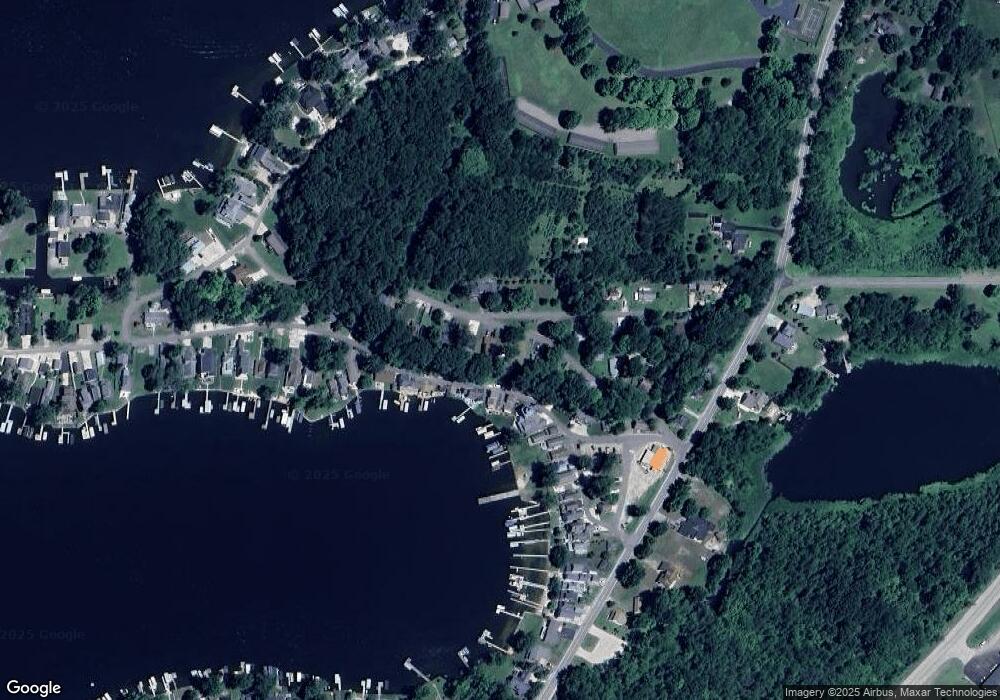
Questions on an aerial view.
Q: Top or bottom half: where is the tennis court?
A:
top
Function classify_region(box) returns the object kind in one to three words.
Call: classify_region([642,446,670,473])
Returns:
building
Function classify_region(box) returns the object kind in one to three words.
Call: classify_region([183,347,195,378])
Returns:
house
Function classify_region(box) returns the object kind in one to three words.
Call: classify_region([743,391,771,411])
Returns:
house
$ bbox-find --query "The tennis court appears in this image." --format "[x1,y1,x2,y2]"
[789,0,829,44]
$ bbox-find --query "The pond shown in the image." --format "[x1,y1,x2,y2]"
[839,72,966,220]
